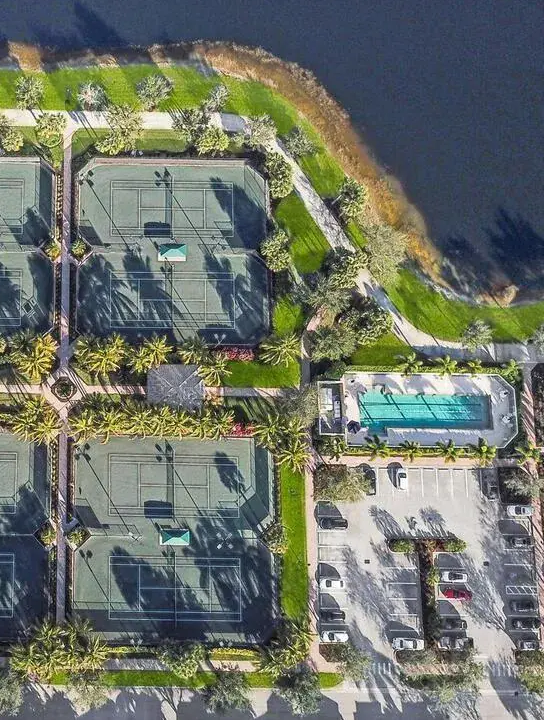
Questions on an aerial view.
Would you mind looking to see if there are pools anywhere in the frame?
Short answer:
Yes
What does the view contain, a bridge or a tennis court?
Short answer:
tennis court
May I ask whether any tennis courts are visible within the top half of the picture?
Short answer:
Yes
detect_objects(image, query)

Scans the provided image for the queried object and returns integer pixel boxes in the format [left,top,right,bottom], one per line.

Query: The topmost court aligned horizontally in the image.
[78,159,268,250]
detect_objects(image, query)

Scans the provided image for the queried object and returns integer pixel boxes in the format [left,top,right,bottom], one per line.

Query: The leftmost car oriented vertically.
[364,469,377,496]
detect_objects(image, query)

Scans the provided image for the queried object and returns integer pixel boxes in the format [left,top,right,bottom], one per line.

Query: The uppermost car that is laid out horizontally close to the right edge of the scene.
[505,505,533,517]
